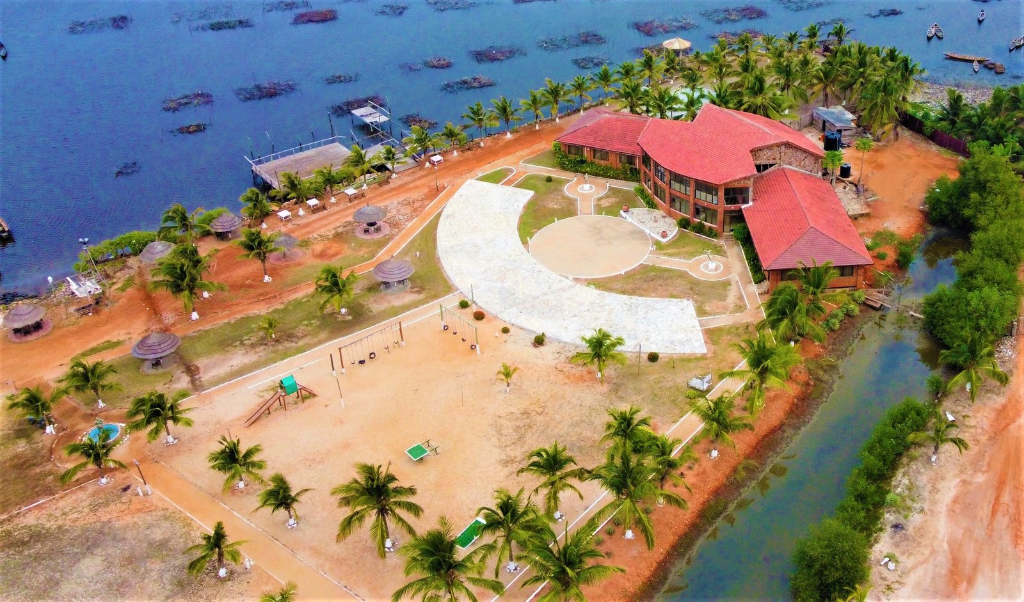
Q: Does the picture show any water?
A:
Yes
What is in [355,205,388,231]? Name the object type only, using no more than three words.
umbrella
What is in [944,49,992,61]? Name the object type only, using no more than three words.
boat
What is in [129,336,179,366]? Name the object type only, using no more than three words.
umbrella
